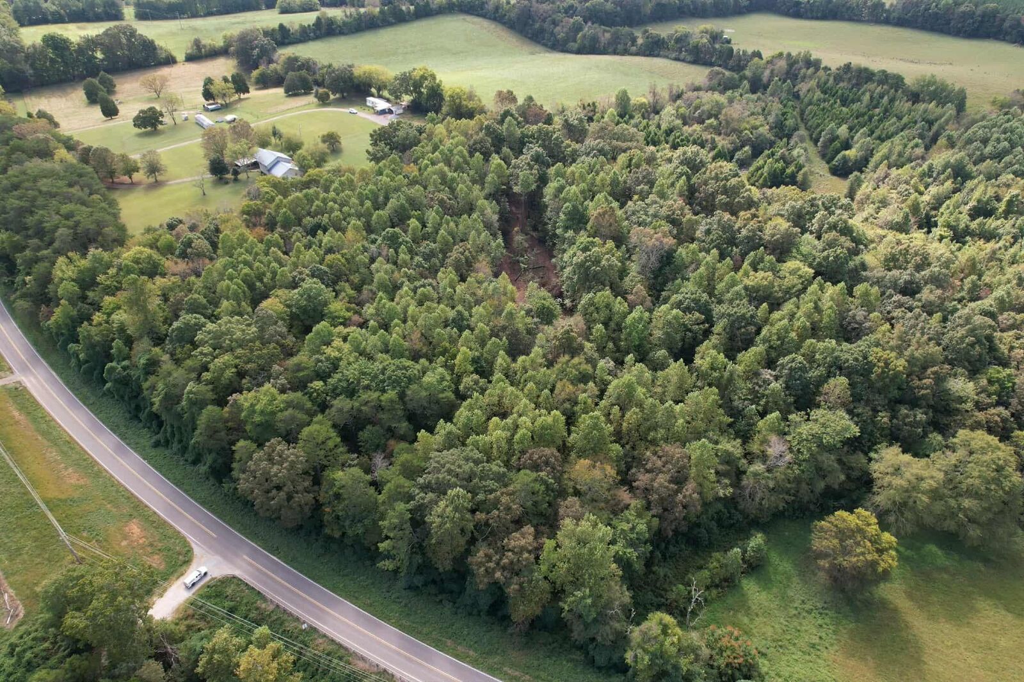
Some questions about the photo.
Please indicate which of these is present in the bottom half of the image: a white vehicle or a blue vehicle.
white vehicle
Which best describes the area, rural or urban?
rural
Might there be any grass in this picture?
Yes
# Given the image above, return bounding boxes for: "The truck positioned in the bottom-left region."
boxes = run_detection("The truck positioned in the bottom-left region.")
[180,565,209,589]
